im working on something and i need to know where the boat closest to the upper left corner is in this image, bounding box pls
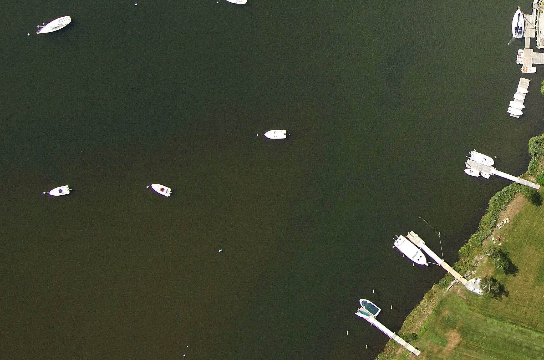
[36,15,73,33]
